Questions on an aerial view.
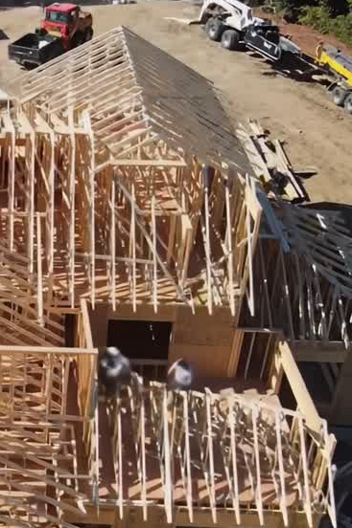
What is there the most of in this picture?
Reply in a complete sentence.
For the most part, this view shows buildings.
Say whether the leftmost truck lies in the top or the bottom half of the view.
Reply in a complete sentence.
You can find the leftmost truck in the top half.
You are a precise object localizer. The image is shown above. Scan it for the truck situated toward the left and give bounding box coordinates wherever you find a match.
[11,0,102,62]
